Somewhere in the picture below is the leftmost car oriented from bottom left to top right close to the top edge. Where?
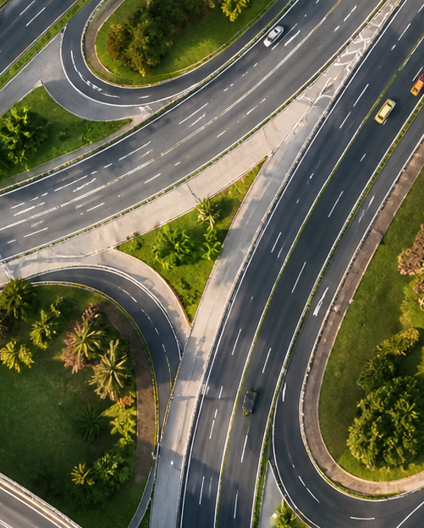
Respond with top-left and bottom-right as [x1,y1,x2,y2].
[261,24,285,49]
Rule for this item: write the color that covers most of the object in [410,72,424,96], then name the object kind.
orange vehicle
